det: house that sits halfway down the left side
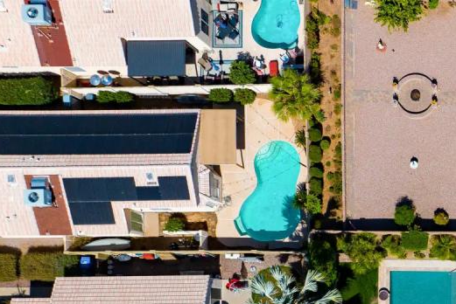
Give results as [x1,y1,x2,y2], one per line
[0,109,218,239]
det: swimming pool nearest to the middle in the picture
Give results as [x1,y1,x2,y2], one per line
[235,137,304,245]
